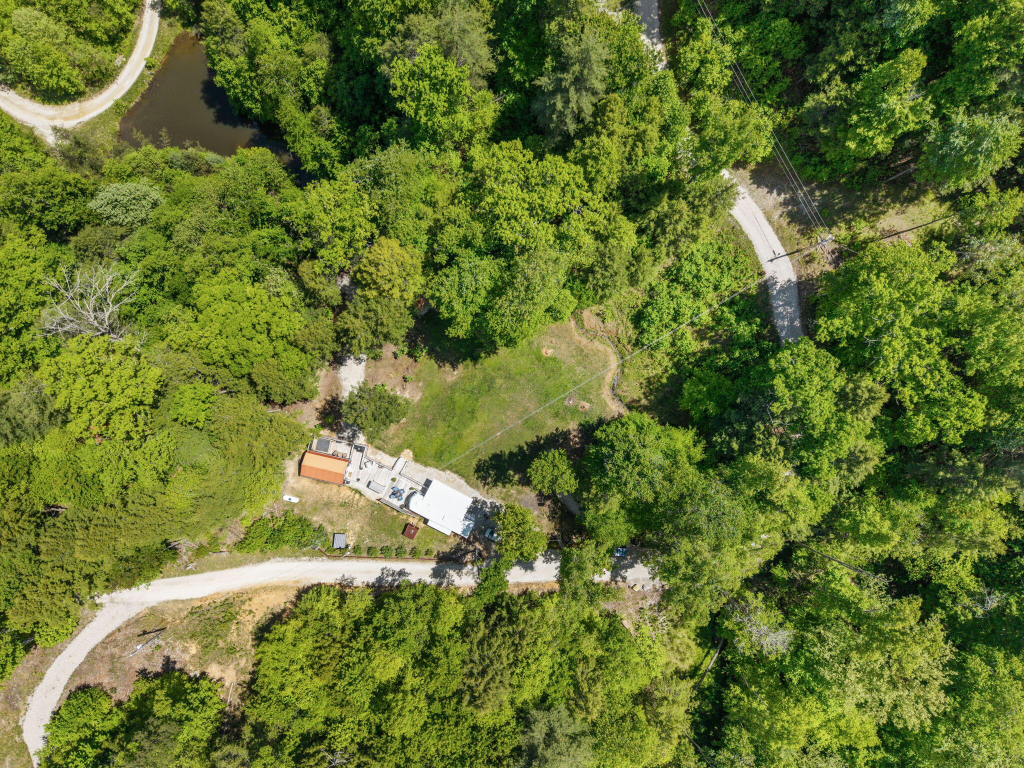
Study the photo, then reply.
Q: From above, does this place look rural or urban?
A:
rural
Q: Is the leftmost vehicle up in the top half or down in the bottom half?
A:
bottom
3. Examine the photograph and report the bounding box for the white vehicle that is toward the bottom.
[408,478,483,538]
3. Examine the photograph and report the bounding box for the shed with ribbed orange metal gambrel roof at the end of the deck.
[300,450,350,485]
